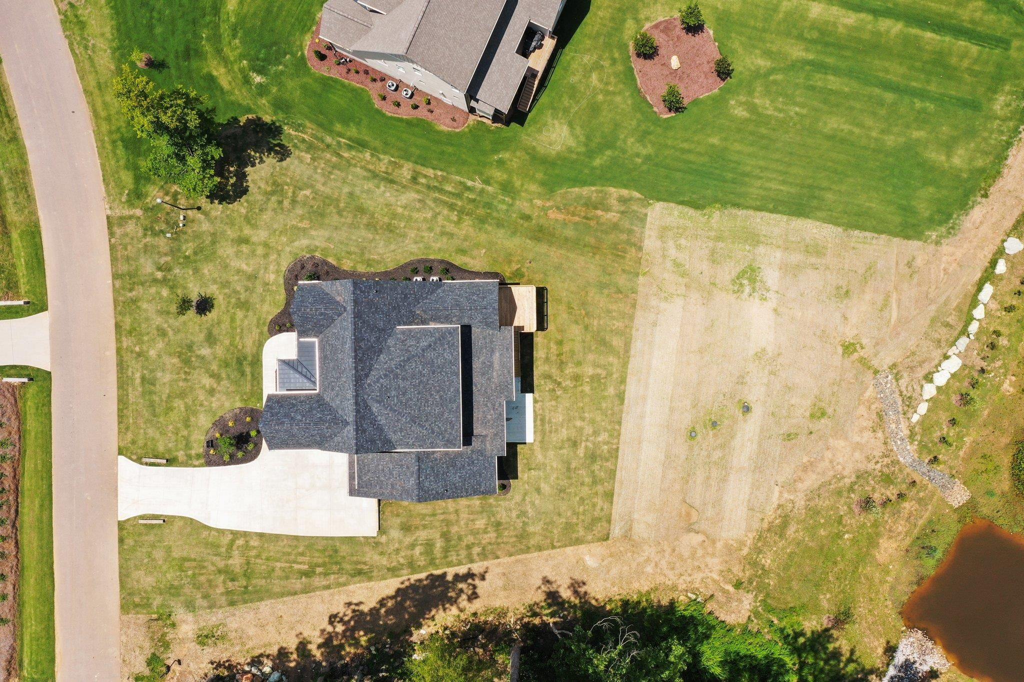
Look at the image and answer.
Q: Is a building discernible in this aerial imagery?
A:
Yes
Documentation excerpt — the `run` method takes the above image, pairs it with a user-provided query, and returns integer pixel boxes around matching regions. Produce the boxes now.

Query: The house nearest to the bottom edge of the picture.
[258,279,516,502]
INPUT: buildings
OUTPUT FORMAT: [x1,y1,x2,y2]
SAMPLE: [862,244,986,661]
[258,279,516,502]
[319,0,567,122]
